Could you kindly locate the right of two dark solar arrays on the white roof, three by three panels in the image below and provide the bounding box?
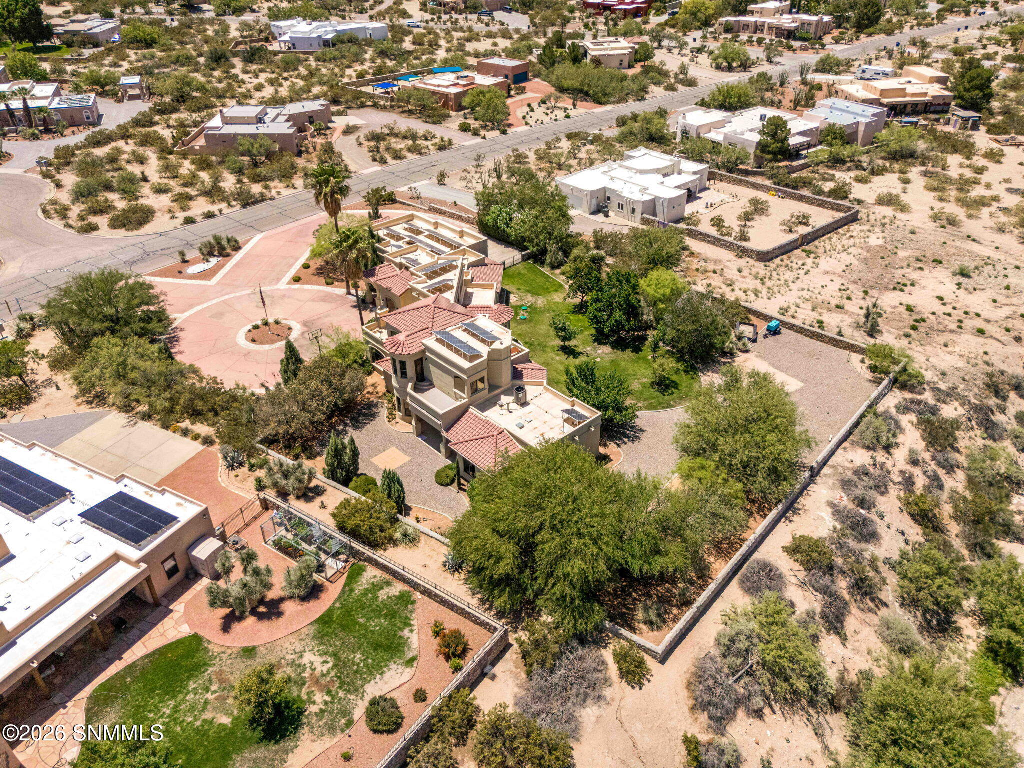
[79,492,178,551]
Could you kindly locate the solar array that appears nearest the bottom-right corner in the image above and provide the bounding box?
[561,409,590,436]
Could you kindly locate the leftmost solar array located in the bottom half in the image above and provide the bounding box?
[0,457,72,519]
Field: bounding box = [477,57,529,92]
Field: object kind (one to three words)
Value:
building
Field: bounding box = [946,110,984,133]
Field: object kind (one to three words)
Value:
building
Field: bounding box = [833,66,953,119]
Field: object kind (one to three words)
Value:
house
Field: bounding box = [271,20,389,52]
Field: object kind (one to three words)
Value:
house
